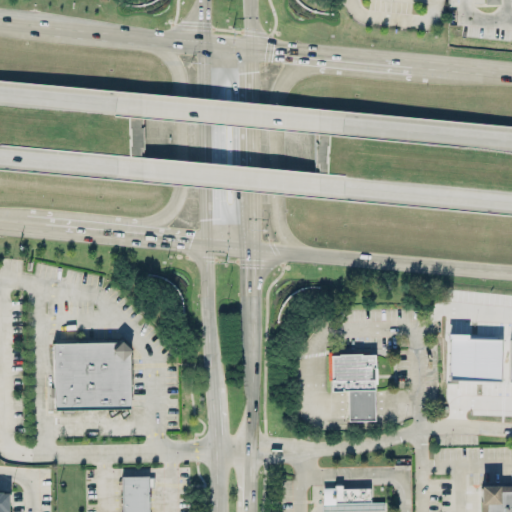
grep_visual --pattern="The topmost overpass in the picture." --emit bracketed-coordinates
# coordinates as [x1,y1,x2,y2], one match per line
[116,90,344,136]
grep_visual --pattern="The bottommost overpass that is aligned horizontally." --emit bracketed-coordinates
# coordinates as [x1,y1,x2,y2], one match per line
[116,155,344,200]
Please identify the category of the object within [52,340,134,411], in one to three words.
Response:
building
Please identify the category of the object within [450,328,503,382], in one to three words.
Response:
building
